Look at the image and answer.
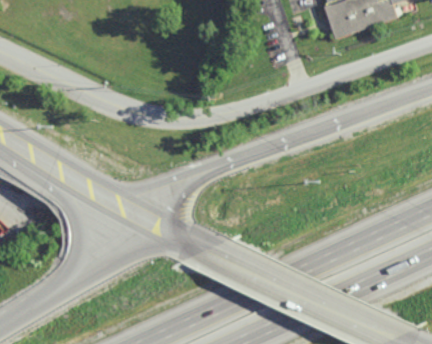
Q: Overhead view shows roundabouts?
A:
No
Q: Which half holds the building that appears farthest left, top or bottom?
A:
top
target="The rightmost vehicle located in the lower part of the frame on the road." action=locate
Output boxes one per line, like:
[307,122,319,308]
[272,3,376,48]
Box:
[385,256,421,276]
